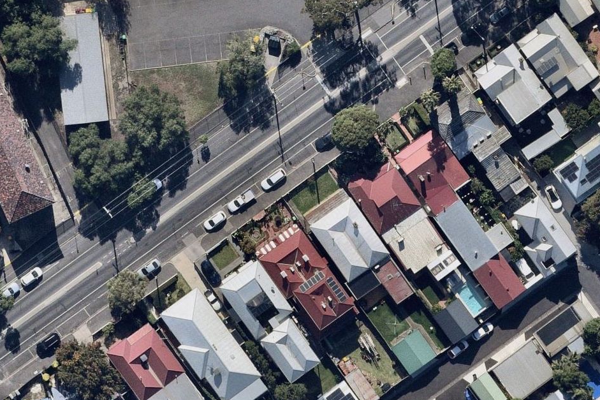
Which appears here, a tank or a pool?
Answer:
pool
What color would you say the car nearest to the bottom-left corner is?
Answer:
black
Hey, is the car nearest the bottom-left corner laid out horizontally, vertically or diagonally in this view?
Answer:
diagonally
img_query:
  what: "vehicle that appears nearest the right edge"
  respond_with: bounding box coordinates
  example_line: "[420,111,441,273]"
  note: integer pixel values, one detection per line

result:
[545,184,562,211]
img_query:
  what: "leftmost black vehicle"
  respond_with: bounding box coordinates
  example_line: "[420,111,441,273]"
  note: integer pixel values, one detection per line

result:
[36,334,61,356]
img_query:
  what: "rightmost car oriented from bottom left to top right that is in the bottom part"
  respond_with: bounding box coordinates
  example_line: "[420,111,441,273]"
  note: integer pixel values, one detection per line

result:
[470,321,495,343]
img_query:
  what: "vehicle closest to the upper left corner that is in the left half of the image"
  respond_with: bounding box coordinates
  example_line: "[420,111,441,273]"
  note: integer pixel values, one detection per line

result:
[148,175,169,193]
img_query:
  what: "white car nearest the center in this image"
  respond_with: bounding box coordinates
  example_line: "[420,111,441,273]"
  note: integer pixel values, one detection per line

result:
[261,168,286,189]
